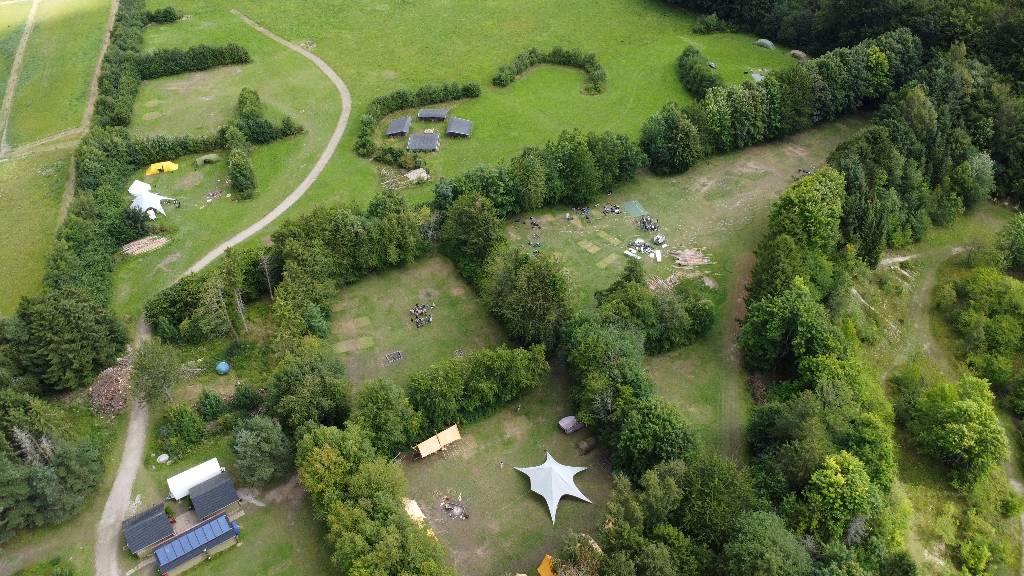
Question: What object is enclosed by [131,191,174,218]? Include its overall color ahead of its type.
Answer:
white tent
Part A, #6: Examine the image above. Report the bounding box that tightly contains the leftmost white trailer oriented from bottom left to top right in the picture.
[161,458,223,502]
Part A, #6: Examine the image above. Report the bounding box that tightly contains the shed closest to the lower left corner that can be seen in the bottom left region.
[124,502,174,560]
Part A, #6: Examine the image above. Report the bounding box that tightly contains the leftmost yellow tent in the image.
[146,158,178,179]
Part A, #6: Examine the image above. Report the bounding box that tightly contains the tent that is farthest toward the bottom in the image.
[510,448,601,523]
